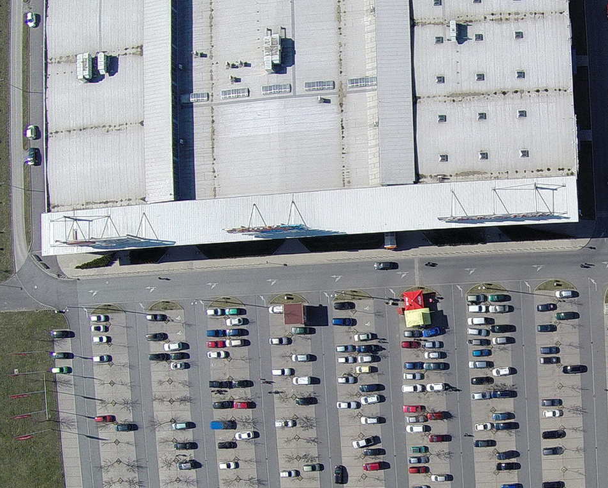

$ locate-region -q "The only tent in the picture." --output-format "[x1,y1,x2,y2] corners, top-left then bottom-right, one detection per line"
[404,290,424,310]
